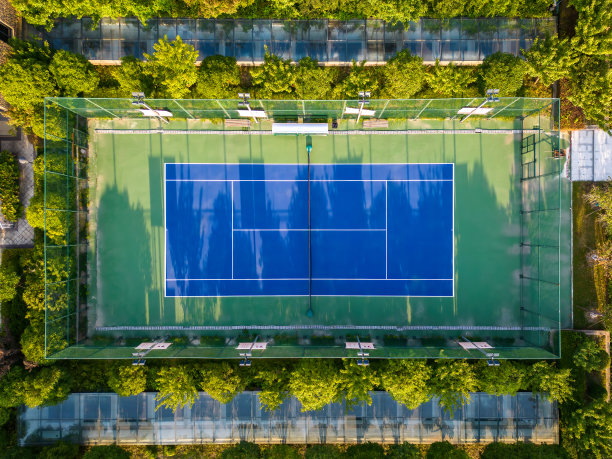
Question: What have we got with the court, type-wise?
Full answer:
The court can be classified as a tennis court.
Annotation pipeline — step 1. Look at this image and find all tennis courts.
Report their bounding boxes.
[87,117,571,338]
